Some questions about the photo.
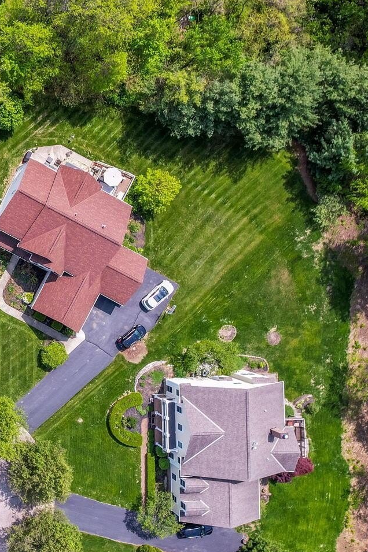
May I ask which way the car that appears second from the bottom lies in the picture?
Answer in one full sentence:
In this picture, the car that appears second from the bottom lies diagonally.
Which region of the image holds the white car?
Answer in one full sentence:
The white car appears toward the center of the photo.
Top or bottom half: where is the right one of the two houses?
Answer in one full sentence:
It is in the bottom half that the right one of the two houses appears.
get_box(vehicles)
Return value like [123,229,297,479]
[112,321,149,355]
[175,523,213,542]
[139,278,176,315]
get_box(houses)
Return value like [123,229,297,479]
[0,159,148,332]
[150,376,304,530]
